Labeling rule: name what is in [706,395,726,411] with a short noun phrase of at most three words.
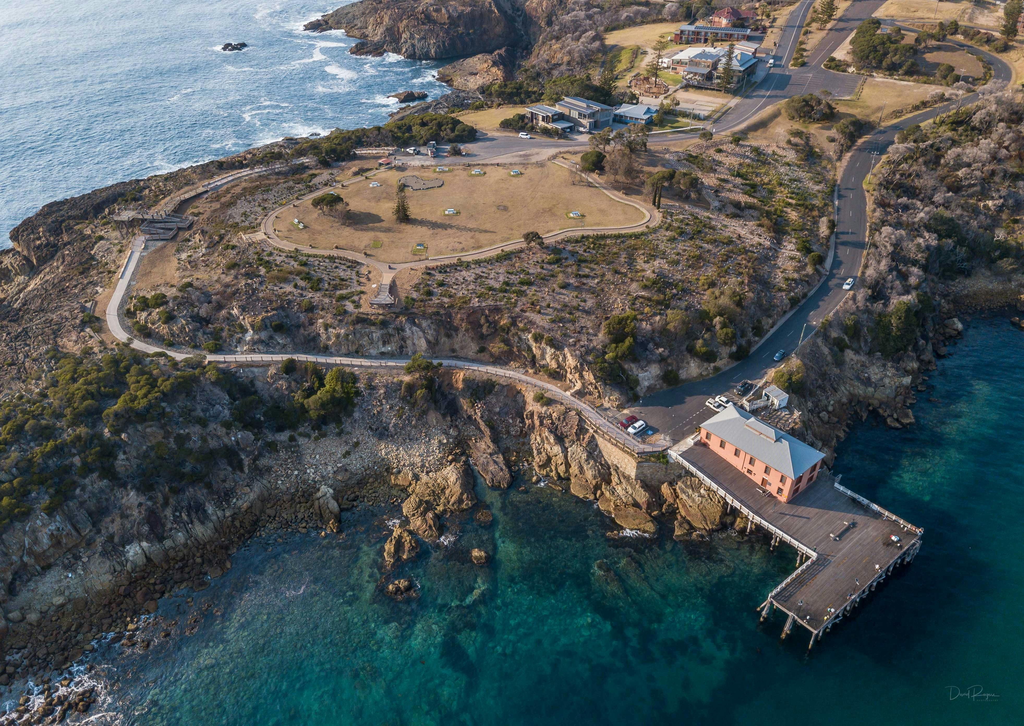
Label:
vehicle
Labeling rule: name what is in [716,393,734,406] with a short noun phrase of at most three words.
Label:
vehicle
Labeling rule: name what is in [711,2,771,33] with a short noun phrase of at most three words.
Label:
house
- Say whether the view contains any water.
Yes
